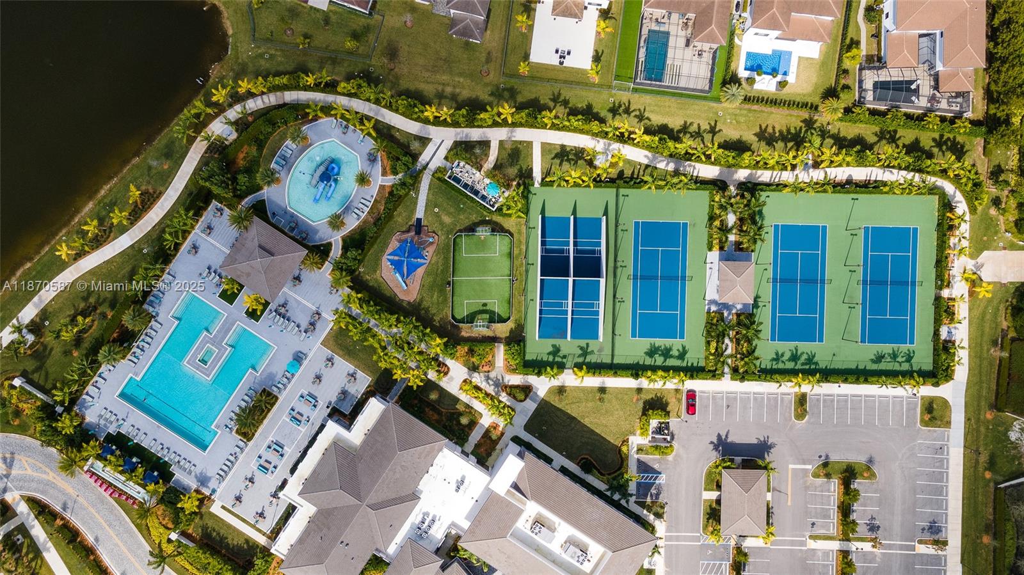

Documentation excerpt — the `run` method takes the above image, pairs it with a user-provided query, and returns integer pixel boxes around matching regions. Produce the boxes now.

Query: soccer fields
[450,226,513,331]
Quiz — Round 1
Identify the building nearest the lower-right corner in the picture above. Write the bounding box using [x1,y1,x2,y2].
[718,468,767,536]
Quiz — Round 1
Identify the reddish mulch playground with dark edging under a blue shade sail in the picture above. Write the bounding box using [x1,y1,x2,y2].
[381,225,439,302]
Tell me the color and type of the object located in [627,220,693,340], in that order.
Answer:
blue tennis court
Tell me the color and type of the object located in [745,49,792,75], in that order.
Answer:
blue swimming pool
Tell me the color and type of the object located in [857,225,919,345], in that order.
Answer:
blue tennis court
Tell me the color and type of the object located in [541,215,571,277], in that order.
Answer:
blue sports court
